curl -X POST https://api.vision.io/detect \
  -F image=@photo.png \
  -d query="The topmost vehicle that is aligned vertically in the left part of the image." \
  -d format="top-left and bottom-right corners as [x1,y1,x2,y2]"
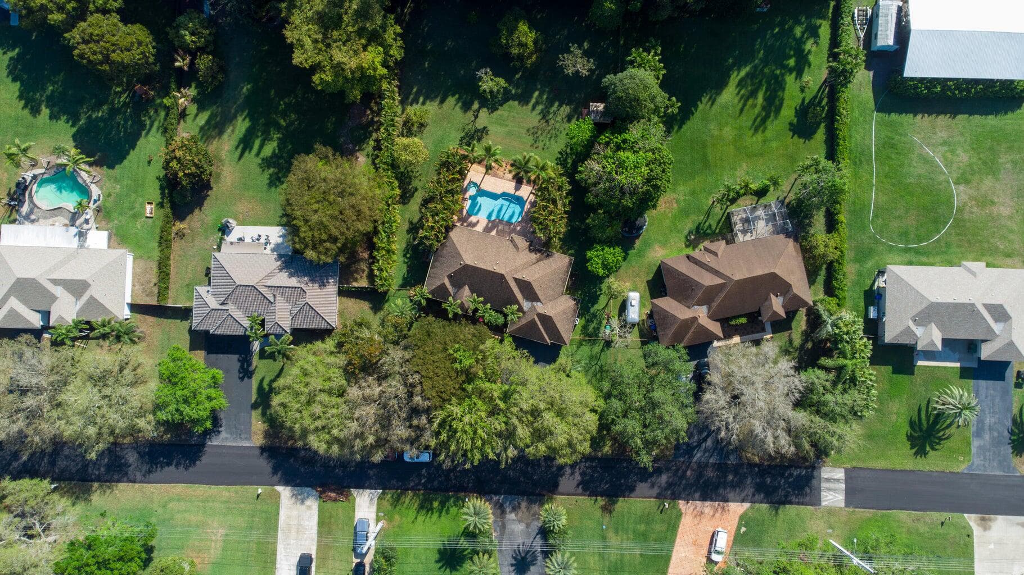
[354,516,371,553]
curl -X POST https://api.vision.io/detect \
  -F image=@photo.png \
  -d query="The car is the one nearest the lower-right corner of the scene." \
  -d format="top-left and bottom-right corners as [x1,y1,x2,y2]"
[710,528,727,561]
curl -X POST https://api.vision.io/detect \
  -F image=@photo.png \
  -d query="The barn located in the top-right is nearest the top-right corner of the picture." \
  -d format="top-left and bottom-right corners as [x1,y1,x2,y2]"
[897,0,1024,78]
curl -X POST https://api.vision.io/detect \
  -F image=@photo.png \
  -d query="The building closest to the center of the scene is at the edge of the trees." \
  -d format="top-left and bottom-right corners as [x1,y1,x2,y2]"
[423,220,581,345]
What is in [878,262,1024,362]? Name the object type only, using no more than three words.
house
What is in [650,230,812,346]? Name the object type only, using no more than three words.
house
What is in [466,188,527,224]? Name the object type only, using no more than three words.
swimming pool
